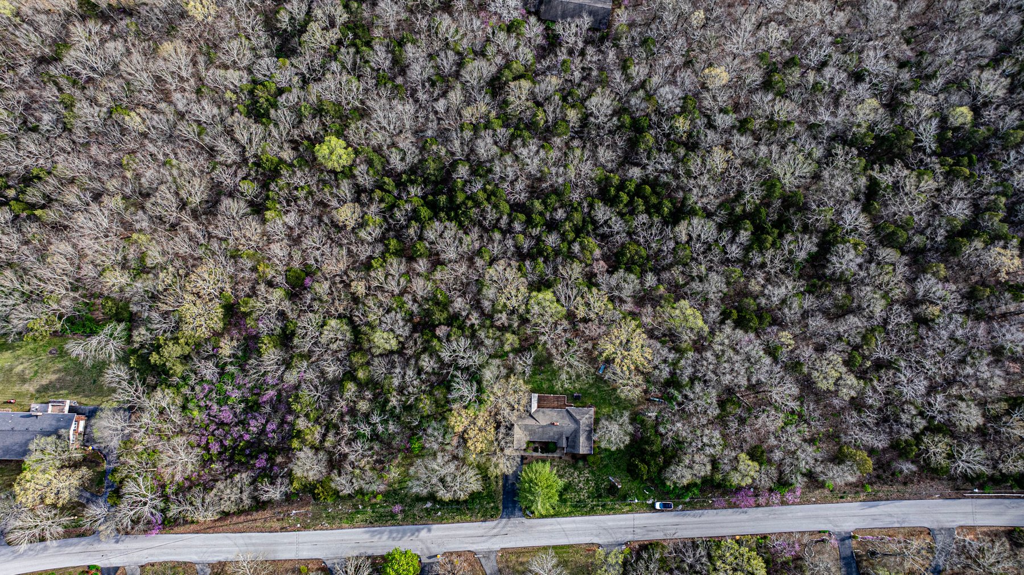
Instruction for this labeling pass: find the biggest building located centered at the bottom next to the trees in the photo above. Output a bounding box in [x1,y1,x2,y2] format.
[513,393,594,457]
